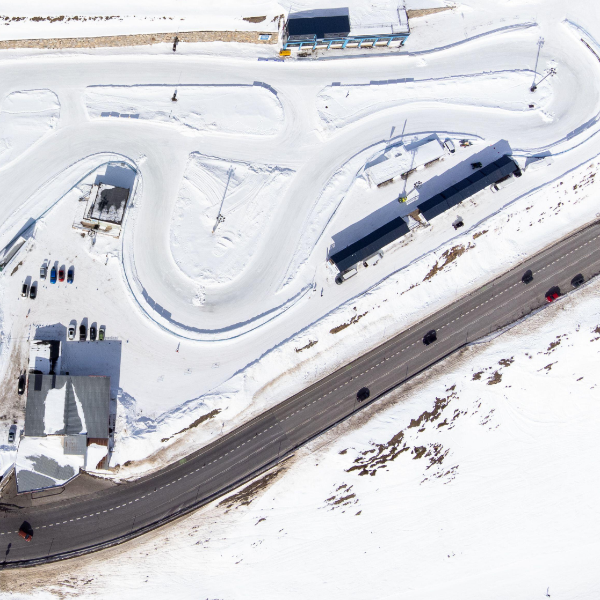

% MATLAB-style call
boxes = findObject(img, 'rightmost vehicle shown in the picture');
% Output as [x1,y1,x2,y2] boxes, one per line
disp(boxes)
[569,276,585,288]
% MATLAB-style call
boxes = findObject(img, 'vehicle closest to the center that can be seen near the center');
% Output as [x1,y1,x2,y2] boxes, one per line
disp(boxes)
[336,269,356,284]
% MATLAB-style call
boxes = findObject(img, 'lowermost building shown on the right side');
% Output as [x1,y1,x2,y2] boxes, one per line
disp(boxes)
[327,216,410,275]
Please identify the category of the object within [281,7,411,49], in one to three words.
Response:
building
